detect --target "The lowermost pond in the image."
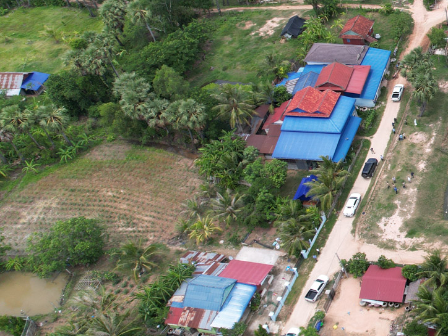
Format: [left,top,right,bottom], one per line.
[0,272,67,317]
